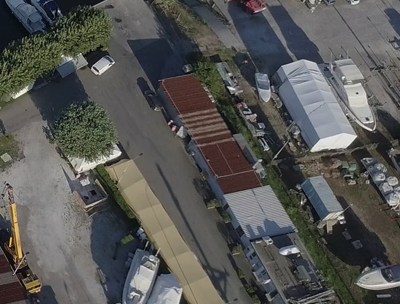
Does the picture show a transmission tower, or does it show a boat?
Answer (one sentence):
Of the two, only a boat appears.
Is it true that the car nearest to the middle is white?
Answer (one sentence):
No, the car nearest to the middle is actually black.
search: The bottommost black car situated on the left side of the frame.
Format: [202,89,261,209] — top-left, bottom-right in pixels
[141,88,163,111]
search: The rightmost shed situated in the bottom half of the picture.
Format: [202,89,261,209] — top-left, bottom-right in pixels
[295,176,343,226]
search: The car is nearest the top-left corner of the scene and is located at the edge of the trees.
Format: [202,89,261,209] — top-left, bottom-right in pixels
[89,57,116,76]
